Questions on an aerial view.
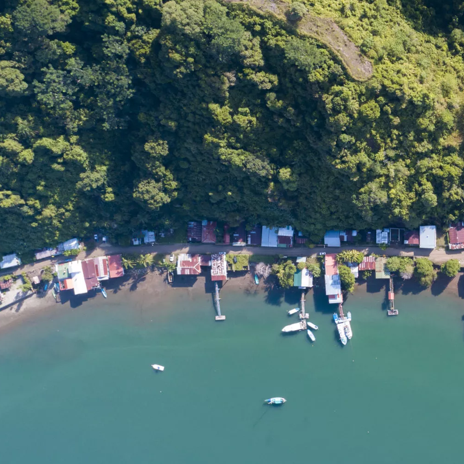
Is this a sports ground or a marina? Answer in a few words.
marina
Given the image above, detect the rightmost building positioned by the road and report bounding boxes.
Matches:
[449,222,464,249]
